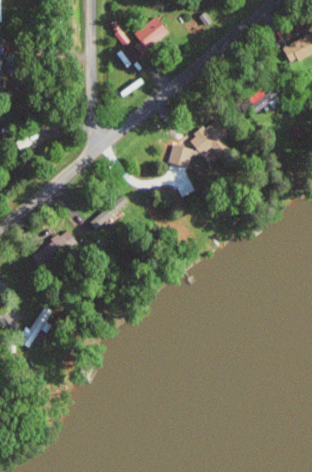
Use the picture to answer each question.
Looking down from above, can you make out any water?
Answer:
Yes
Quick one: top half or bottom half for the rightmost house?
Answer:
top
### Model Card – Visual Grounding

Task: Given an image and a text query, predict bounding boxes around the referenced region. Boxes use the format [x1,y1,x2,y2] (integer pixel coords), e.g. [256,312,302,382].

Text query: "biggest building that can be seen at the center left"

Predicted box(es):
[32,226,78,266]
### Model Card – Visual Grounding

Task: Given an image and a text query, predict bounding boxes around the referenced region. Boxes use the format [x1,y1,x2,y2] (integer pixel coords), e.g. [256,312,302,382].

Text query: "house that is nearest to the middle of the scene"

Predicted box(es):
[91,196,128,228]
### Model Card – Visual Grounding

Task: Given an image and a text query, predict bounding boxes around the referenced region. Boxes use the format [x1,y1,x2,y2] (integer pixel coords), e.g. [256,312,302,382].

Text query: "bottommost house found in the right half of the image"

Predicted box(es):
[169,124,229,170]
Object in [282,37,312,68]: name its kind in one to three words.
house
